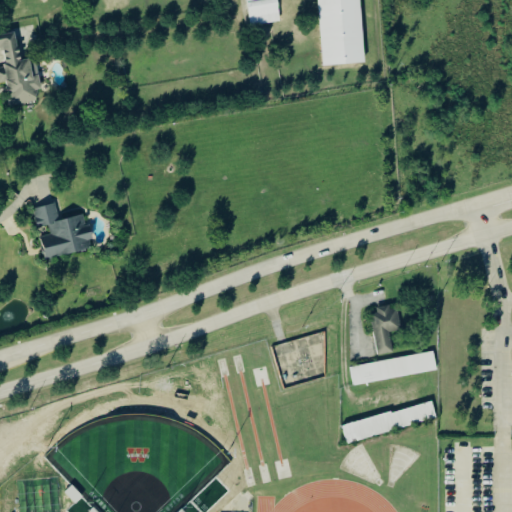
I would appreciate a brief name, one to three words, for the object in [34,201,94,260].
house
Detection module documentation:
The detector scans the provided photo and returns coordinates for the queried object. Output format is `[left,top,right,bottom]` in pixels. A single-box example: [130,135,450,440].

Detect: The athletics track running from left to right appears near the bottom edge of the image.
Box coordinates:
[258,478,400,512]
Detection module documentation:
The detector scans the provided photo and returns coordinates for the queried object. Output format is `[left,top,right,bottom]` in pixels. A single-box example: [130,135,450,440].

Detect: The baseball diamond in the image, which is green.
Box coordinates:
[46,414,230,512]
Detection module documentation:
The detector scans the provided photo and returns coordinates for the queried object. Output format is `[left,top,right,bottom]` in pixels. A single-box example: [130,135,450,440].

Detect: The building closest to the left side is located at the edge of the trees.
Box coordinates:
[0,29,42,106]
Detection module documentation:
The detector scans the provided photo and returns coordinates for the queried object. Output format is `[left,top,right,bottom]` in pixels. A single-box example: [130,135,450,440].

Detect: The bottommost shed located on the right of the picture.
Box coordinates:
[342,402,436,443]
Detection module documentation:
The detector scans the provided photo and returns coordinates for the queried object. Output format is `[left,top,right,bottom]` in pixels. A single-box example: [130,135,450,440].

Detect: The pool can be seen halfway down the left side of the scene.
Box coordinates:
[88,211,110,246]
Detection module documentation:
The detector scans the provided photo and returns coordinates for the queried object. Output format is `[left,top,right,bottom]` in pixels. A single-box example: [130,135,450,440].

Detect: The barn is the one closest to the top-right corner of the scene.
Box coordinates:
[316,0,365,64]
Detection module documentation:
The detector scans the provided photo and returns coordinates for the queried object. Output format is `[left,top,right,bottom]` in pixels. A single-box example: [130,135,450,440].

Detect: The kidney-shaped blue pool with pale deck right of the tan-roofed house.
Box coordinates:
[41,60,66,91]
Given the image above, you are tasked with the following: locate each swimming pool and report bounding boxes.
[88,211,110,246]
[41,60,66,91]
